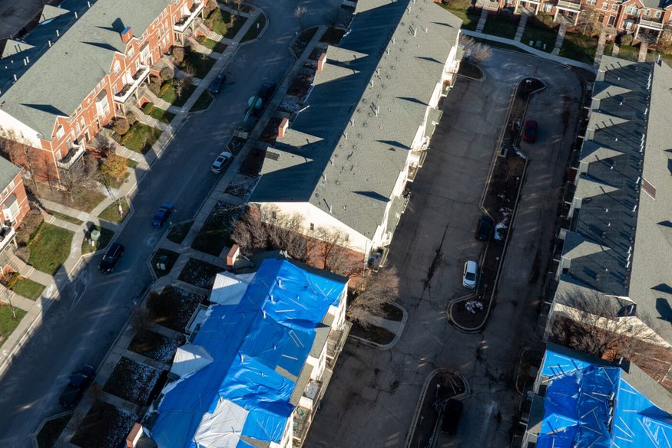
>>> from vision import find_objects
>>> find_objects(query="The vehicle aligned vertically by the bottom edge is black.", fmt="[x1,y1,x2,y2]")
[440,394,464,436]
